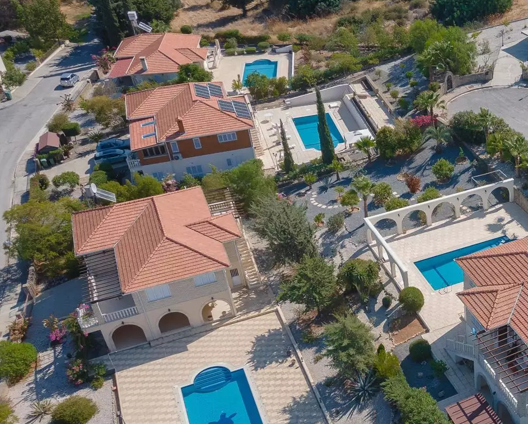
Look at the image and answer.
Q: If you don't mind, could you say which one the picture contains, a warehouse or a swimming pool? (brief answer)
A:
swimming pool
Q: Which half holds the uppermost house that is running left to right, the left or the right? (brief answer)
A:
left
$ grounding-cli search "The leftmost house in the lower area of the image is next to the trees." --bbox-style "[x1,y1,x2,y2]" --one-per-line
[71,184,274,356]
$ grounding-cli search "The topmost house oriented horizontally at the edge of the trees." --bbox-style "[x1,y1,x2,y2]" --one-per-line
[108,32,229,96]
